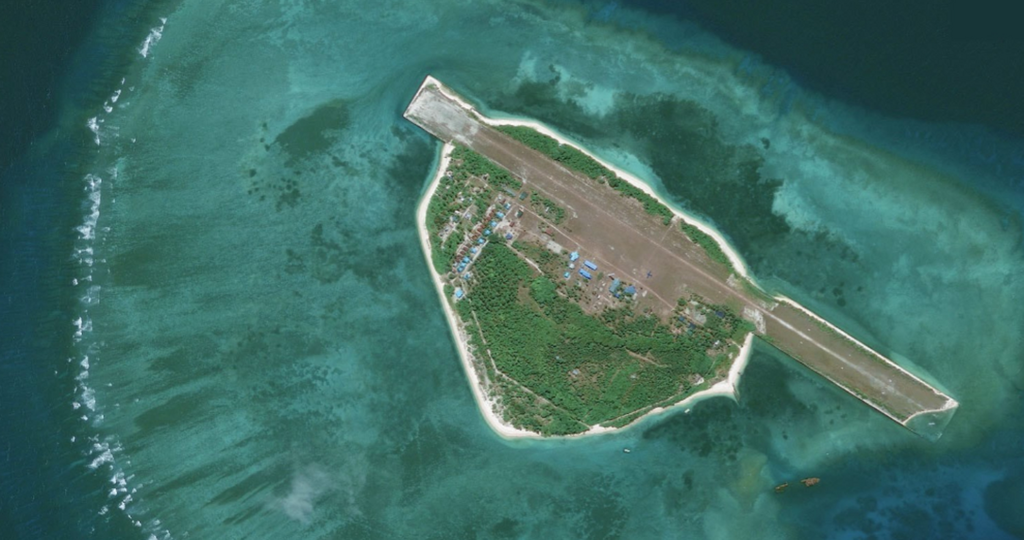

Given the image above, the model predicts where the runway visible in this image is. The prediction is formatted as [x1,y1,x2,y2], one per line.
[409,88,942,420]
